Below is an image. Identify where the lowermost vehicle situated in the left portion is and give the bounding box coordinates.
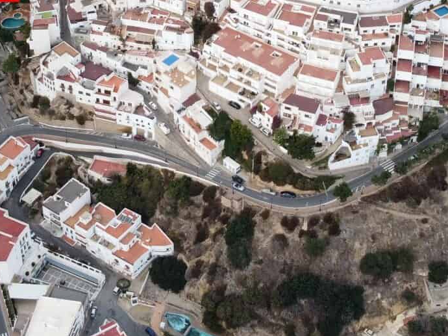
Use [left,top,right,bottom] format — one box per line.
[144,323,157,336]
